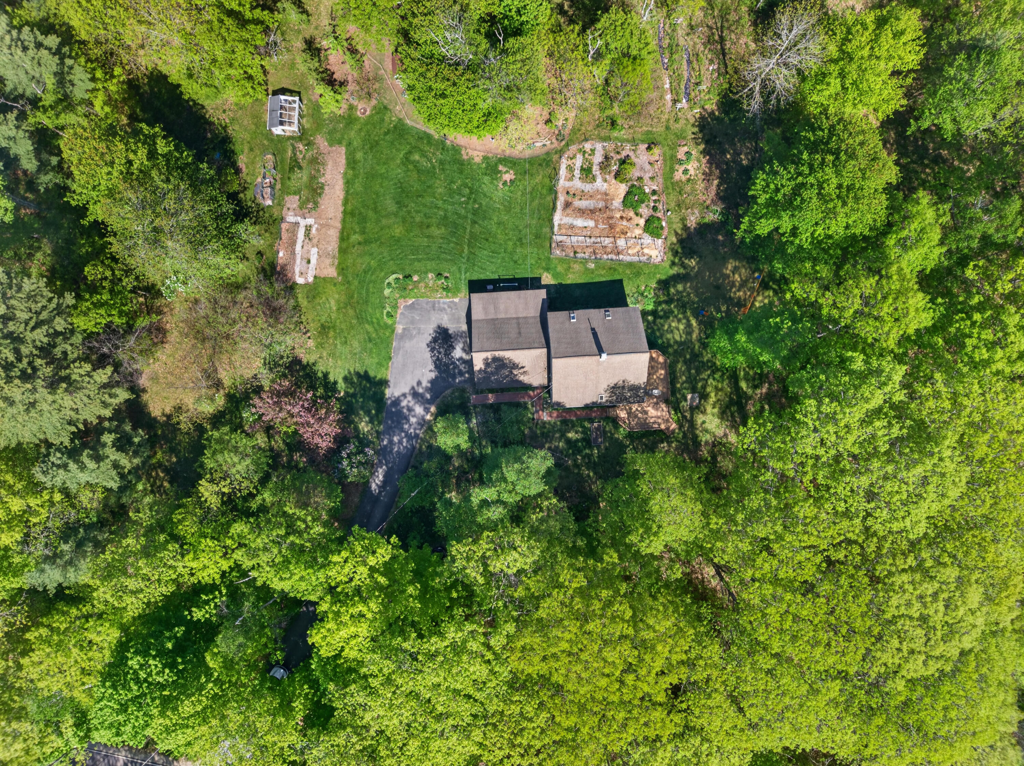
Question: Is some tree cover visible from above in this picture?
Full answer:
Yes, tree cover shows up in the scene.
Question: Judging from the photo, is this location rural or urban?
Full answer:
The area shown here is rural.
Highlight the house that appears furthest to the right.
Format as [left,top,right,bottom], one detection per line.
[546,304,649,409]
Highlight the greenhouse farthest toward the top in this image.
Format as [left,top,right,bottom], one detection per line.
[267,92,304,135]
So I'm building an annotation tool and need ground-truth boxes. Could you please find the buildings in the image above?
[546,304,649,409]
[468,289,548,389]
[267,92,304,135]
